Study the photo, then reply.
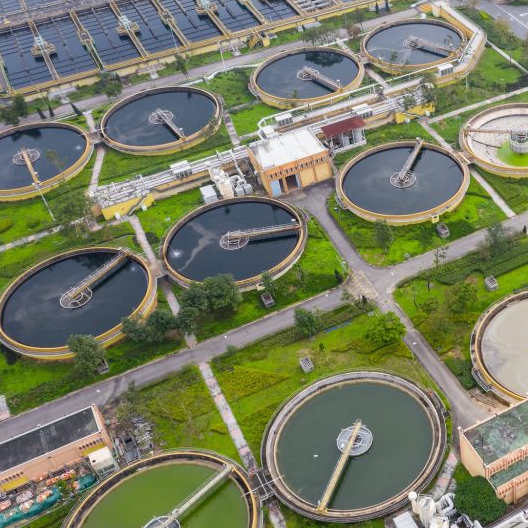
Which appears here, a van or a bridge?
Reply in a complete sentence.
I can see a bridge in this picture.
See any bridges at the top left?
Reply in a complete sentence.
Yes, I can see a bridge at the top left.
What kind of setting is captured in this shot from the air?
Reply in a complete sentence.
What you see here is an industrial area.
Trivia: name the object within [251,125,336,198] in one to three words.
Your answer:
house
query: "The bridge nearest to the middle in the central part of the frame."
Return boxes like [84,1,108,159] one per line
[219,223,305,238]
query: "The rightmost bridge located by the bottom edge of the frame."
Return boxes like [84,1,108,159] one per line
[317,419,362,514]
